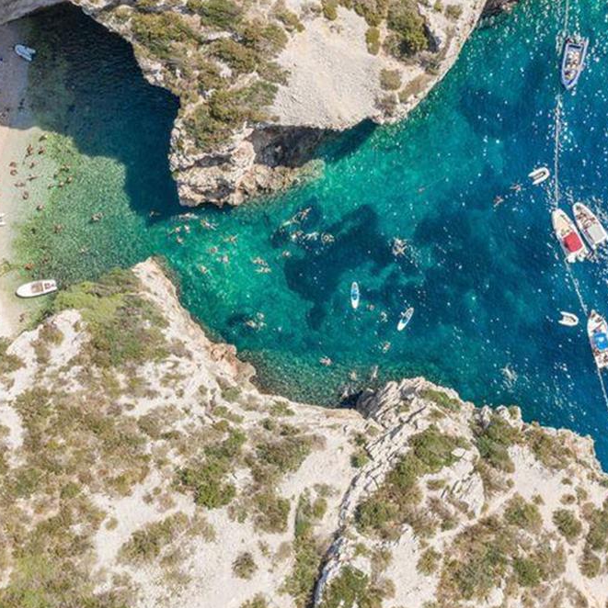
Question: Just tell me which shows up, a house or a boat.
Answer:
boat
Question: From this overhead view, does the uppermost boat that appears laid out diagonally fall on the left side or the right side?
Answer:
left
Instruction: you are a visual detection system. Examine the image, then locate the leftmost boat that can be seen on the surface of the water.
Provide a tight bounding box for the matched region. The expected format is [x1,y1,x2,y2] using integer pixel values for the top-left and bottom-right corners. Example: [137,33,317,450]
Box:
[527,166,550,185]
